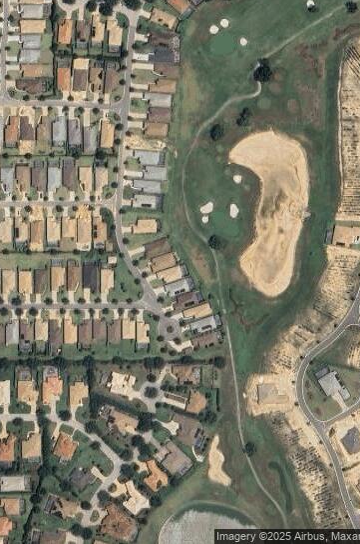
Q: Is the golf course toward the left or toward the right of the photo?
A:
right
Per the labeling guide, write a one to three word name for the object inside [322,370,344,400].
house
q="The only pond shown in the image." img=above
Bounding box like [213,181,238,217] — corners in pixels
[158,508,263,544]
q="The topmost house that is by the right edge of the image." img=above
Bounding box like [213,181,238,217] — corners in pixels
[335,226,360,245]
